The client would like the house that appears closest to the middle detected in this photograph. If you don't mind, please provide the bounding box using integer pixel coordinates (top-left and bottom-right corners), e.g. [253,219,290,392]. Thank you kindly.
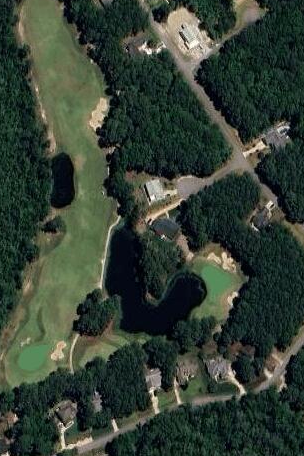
[152,218,178,238]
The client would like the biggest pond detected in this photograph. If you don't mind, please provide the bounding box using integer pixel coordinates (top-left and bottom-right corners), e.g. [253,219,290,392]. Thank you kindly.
[105,228,206,334]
